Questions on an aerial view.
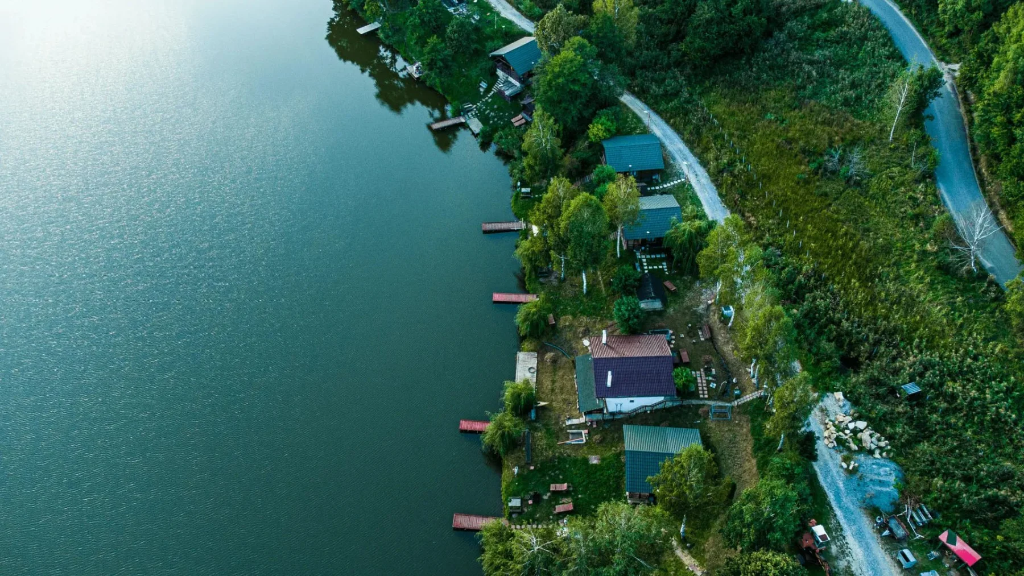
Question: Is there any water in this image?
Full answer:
Yes, water shows up in the scene.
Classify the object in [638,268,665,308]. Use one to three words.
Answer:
shed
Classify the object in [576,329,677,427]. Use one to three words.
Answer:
house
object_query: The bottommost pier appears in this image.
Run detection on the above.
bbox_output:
[453,513,509,533]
